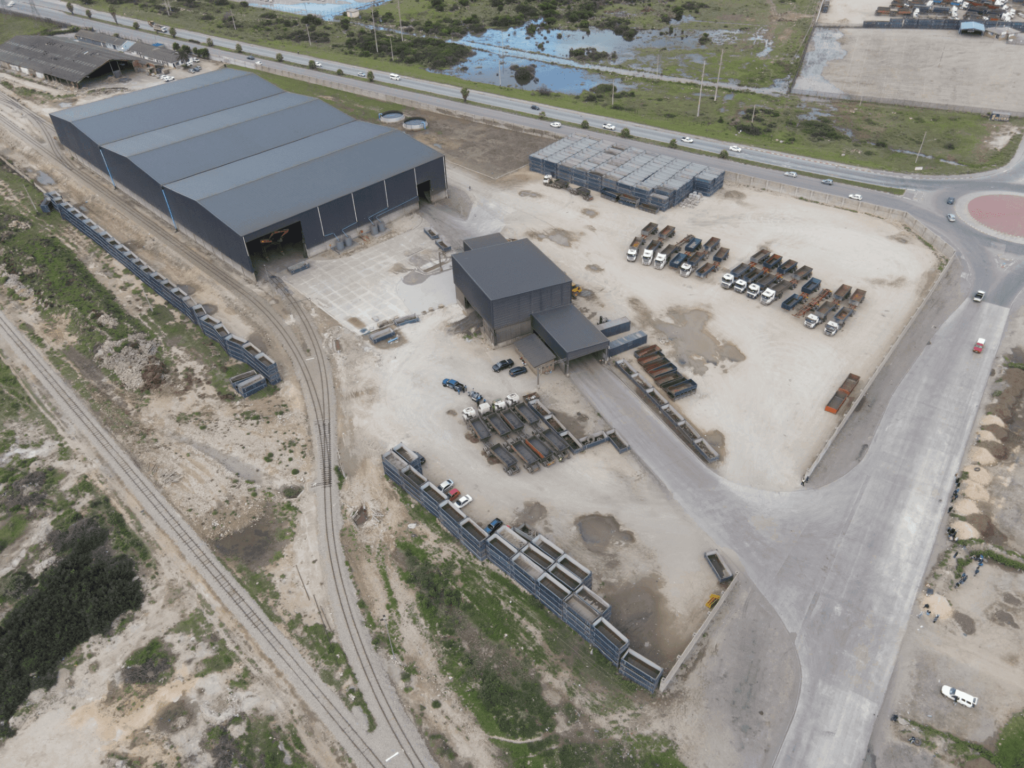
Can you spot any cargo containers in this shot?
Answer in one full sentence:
Yes, looking at the shot, I can spot a cargo container.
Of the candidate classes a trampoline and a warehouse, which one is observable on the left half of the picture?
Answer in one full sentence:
It is a warehouse that can be seen on the left half of the picture.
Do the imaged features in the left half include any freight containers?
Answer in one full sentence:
No, no freight container appears in the left half.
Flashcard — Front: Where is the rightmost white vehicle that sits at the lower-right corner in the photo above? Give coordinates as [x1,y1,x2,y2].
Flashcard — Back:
[941,685,982,710]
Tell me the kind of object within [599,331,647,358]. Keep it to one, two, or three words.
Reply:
shipping container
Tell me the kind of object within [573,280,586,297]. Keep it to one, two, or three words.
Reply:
vehicle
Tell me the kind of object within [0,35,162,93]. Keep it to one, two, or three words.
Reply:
building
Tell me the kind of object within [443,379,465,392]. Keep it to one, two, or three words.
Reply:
vehicle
